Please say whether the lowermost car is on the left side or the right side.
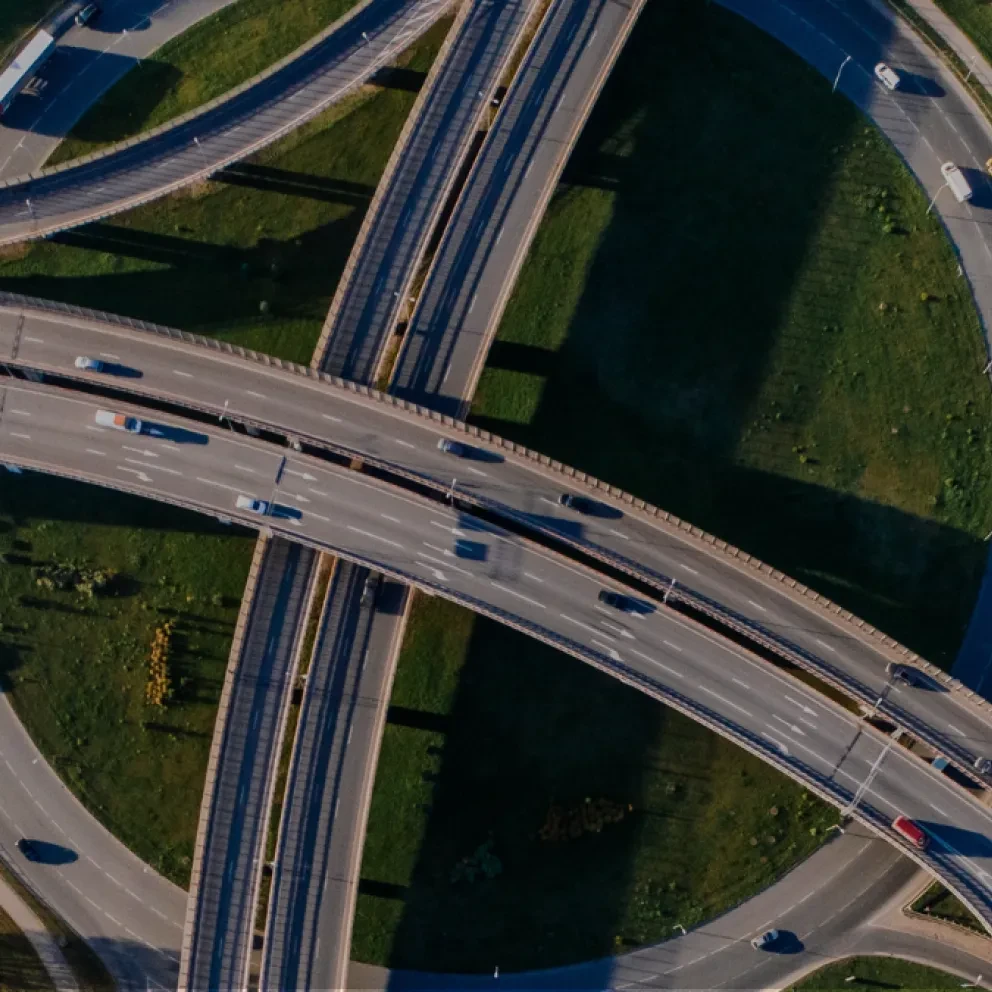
right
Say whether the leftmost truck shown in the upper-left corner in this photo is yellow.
No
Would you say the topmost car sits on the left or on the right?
left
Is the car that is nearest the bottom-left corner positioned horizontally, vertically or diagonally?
diagonally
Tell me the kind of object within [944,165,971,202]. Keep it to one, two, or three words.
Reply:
vehicle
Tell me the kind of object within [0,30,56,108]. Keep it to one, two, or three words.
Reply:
truck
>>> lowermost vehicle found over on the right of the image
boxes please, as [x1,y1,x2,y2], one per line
[750,927,781,950]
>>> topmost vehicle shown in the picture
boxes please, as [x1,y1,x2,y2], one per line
[74,3,100,27]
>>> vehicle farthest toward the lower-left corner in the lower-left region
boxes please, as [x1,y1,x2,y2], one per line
[14,838,41,864]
